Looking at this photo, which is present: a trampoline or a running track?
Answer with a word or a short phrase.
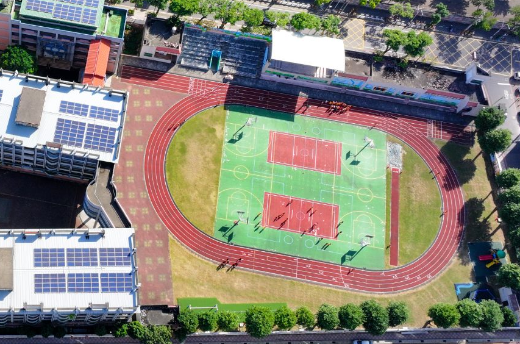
running track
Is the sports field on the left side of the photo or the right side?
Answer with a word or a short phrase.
right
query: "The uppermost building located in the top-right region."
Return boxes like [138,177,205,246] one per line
[459,64,490,89]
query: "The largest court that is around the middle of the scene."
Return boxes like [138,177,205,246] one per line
[213,106,387,267]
